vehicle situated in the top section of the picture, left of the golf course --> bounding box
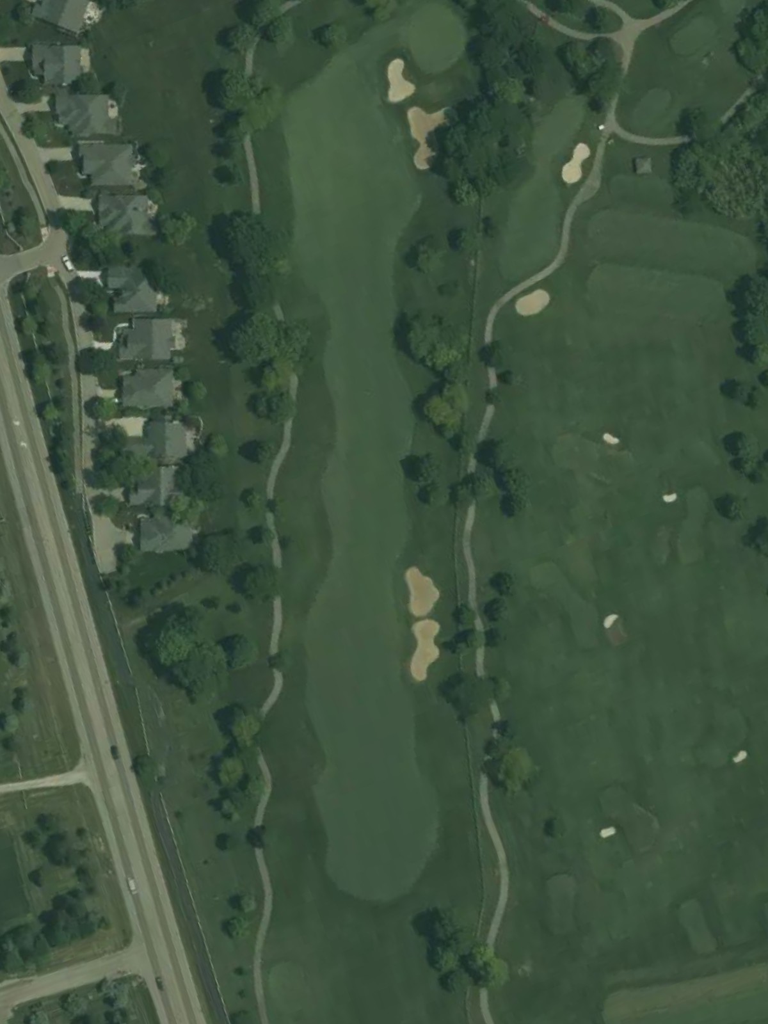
[62,254,75,272]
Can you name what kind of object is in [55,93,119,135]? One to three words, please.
house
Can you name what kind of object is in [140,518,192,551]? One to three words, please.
house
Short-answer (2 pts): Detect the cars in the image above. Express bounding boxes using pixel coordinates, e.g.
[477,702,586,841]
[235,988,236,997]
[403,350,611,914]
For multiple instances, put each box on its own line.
[62,254,75,272]
[110,744,119,760]
[156,976,164,991]
[127,877,136,893]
